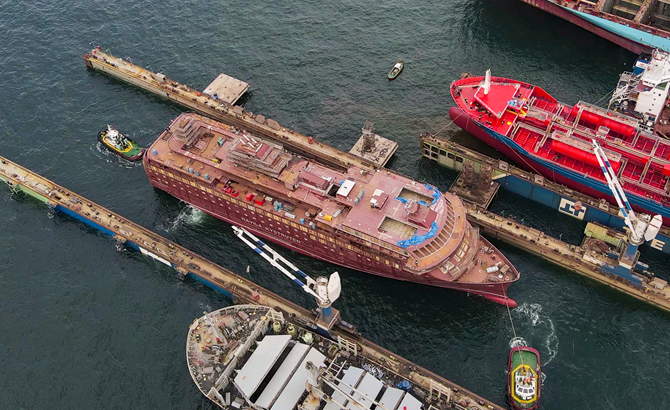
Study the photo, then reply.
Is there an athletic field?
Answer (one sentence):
No, no athletic field is visible in the scene.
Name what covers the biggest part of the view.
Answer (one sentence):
The bulk of the photo consists of water.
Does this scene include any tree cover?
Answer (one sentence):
No, the scene doesn't show any tree cover.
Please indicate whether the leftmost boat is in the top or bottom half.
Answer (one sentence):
The leftmost boat sits in the top half of the picture.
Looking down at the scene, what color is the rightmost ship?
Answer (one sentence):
The color of the rightmost ship is white.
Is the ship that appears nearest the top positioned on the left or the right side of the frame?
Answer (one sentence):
It is on the right.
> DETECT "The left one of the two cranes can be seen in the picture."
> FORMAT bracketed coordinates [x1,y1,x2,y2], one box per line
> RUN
[228,232,344,343]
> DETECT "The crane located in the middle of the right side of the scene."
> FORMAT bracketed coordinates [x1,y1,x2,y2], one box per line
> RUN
[594,133,660,279]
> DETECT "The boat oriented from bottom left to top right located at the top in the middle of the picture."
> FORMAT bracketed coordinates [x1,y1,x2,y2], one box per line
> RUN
[387,64,403,81]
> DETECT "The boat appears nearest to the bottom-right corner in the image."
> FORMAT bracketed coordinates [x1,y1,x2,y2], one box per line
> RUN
[506,341,542,410]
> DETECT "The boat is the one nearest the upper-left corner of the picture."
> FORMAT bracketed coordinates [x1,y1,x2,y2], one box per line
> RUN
[97,122,150,162]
